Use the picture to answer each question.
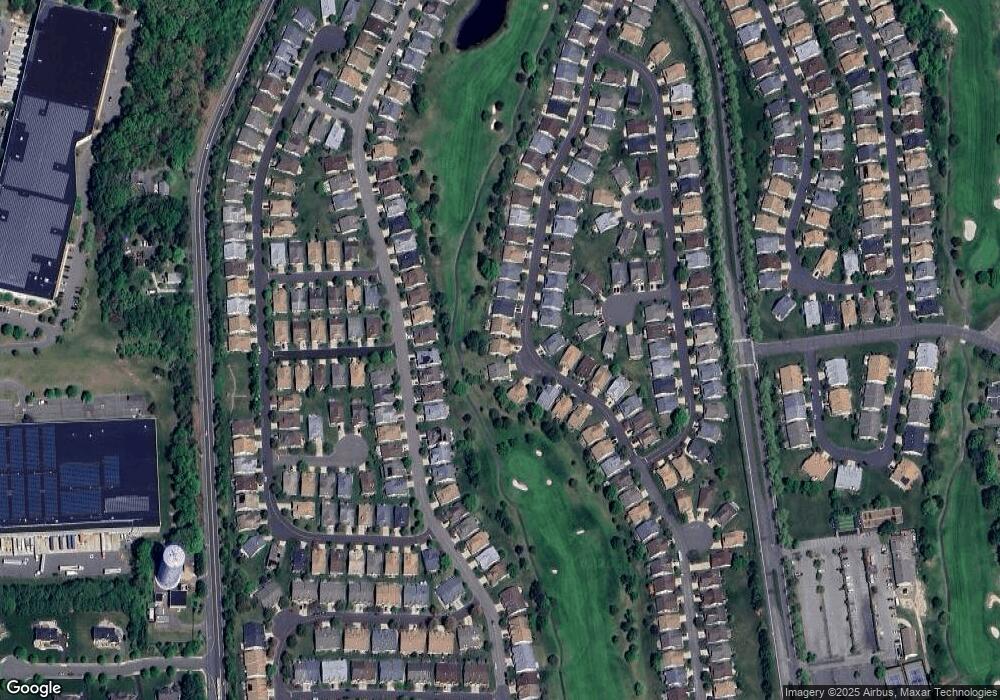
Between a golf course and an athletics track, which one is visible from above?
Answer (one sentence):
It is a golf course that can be seen here.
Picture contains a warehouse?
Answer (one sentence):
Yes, there is a warehouse in the image.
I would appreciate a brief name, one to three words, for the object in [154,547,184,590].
water tower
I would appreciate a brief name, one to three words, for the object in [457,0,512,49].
pond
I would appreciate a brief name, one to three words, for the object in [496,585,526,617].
house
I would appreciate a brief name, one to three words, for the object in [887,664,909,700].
tennis court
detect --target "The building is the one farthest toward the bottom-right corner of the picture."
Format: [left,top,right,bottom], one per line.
[900,628,917,660]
